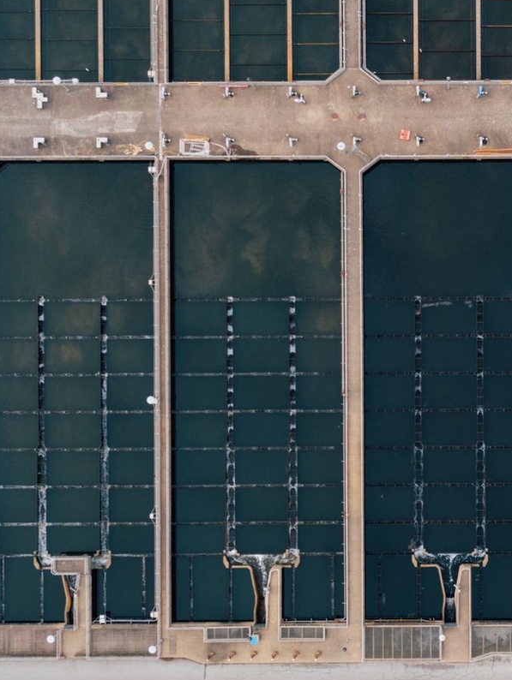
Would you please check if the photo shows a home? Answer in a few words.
No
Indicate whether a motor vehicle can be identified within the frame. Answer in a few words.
No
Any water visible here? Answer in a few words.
Yes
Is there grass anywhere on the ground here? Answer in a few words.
No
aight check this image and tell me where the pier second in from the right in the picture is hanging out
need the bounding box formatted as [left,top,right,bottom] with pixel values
[267,566,284,627]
